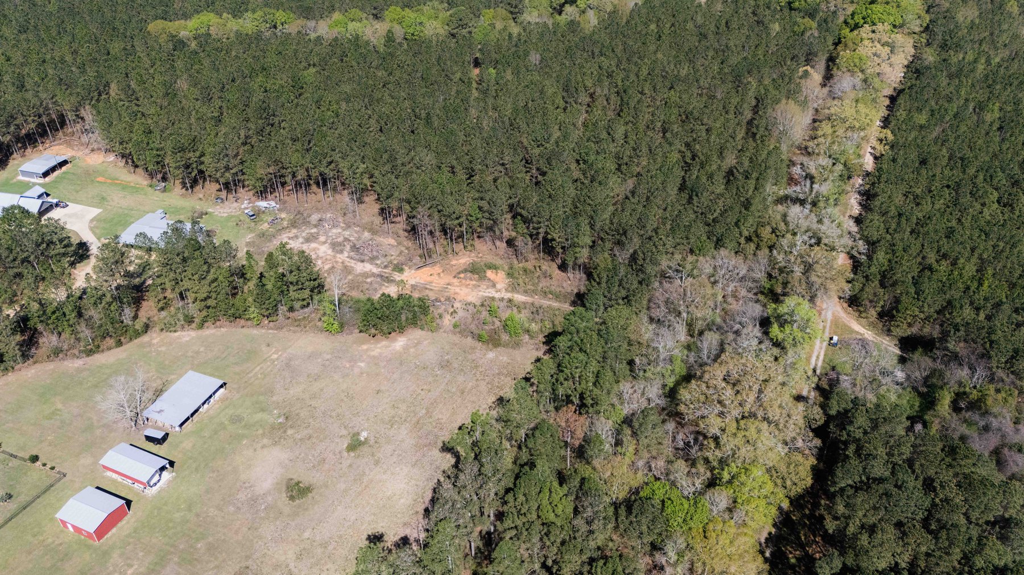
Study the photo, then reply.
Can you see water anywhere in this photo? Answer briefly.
No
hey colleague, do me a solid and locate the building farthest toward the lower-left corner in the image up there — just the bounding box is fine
[56,487,130,544]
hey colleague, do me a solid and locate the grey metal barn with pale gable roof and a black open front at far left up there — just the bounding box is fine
[18,154,69,180]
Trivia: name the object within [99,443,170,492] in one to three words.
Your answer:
shed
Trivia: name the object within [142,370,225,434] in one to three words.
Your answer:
shed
